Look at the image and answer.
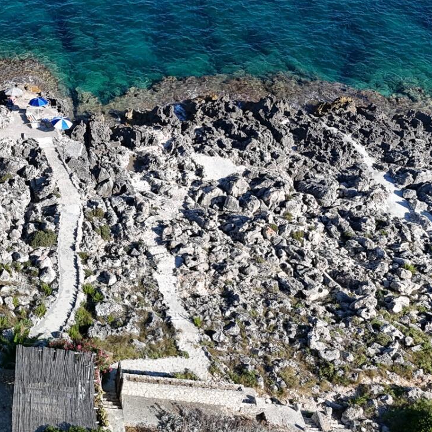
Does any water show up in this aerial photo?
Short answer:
Yes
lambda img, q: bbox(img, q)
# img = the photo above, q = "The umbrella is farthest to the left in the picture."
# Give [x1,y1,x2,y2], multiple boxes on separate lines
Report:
[3,86,23,112]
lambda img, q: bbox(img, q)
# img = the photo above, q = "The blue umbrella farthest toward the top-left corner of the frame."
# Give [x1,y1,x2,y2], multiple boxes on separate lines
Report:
[28,97,49,122]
